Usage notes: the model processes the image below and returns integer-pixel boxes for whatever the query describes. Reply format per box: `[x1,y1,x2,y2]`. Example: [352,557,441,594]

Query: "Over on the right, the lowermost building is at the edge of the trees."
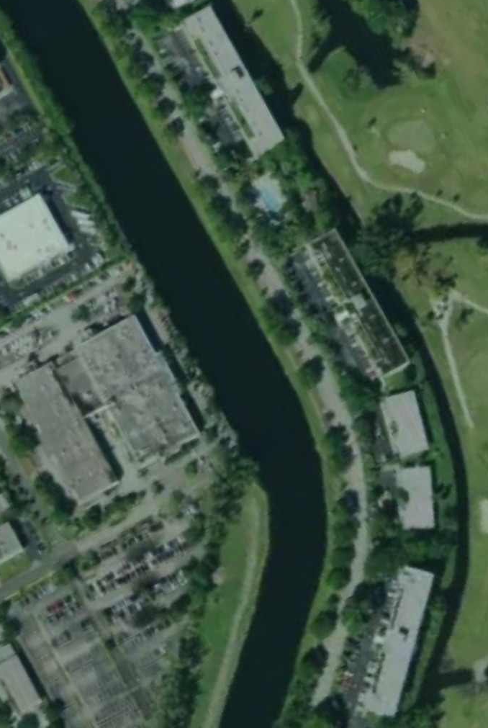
[360,567,434,717]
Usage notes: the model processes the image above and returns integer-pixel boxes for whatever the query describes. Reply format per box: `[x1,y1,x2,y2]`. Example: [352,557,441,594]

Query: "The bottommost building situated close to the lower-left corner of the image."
[0,645,44,713]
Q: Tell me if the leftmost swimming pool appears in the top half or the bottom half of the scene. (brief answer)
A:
top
